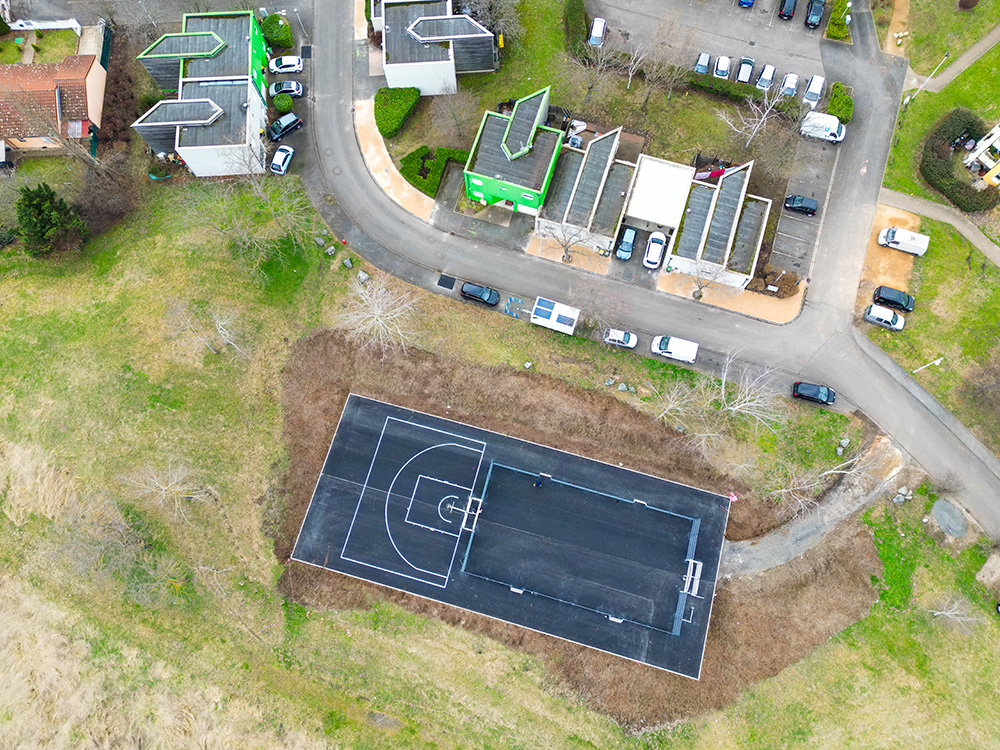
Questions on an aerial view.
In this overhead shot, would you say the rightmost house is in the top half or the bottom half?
top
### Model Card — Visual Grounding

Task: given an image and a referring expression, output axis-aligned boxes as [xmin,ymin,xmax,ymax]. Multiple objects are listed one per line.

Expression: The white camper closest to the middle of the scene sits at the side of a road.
[522,298,579,334]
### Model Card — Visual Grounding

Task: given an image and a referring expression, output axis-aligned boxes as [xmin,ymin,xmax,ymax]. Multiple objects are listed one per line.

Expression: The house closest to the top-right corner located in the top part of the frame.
[957,126,1000,196]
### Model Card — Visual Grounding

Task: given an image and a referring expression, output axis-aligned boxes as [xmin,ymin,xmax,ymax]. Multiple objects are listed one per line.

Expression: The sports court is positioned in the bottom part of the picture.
[290,394,732,681]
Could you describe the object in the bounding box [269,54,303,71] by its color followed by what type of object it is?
white car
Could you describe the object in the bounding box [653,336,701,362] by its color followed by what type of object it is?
white vehicle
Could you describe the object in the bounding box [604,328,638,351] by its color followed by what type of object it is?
white car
